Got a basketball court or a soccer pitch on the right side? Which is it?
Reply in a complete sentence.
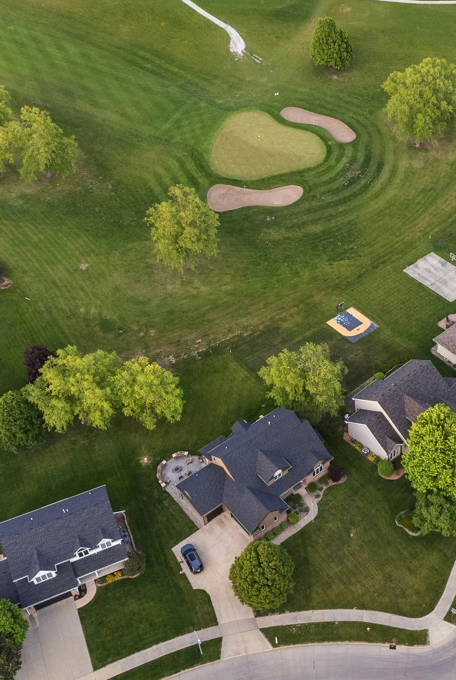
What appears on the right side is a basketball court.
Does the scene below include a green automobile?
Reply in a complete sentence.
No, no green automobile is visible in the scene.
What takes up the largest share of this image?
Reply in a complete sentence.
The bulk of the photo consists of grass.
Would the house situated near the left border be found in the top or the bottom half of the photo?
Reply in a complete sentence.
Seen from above, the house situated near the left border lies in the bottom half of the view.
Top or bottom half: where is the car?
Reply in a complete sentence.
The bottom half of the photo is where the car is.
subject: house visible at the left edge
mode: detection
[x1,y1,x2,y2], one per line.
[0,485,130,624]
